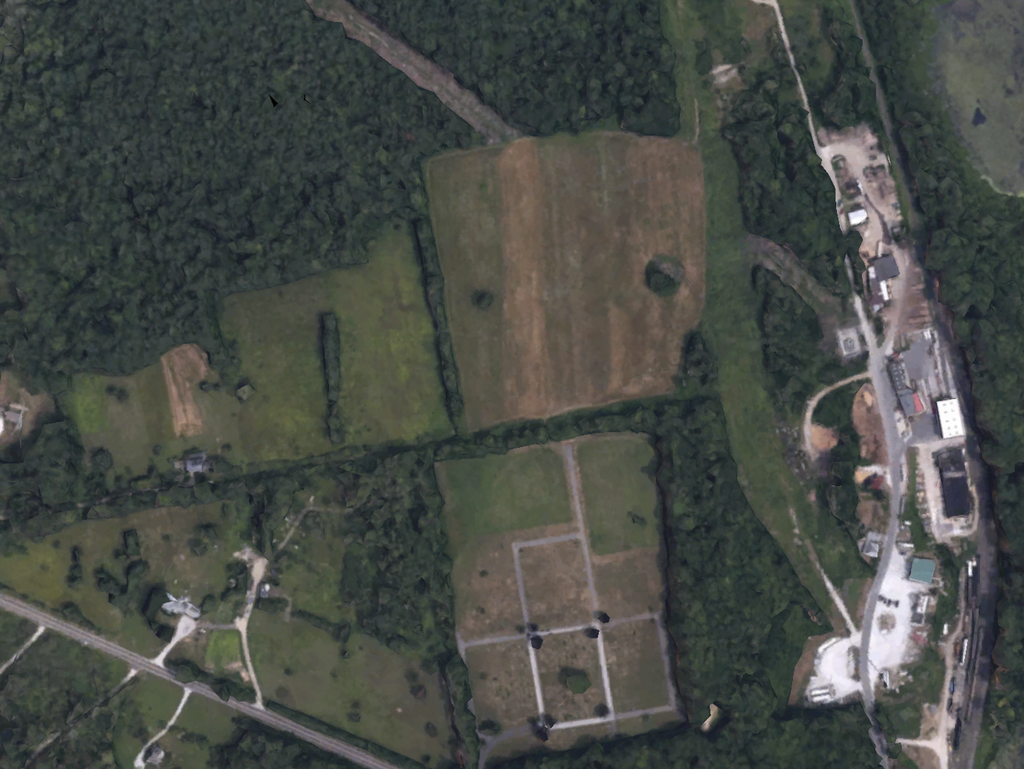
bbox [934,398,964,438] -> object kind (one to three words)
building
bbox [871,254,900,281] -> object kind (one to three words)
building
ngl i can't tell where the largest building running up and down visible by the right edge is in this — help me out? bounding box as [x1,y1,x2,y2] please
[935,450,974,518]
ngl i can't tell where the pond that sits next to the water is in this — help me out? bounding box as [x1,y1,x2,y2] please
[933,0,1024,190]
